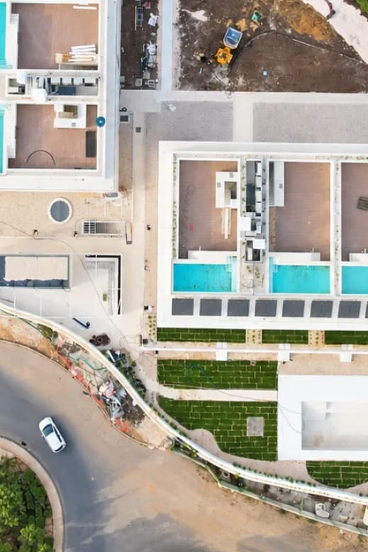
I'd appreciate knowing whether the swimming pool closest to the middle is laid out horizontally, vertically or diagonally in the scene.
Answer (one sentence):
In this picture, the swimming pool closest to the middle is oriented horizontally.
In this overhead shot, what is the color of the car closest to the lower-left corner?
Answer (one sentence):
In this view, the car closest to the lower-left corner is white.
